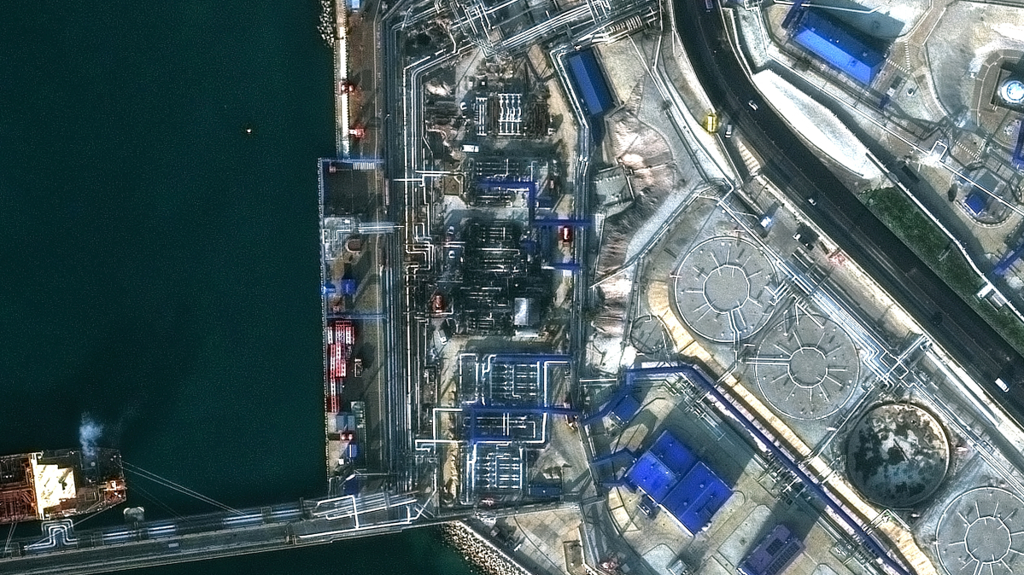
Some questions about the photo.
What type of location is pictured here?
industrial area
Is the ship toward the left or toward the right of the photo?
left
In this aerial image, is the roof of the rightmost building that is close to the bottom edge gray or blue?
blue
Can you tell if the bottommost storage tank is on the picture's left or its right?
right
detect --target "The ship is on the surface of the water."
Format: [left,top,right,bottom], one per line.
[0,449,126,522]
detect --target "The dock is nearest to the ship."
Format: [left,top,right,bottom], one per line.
[0,490,447,575]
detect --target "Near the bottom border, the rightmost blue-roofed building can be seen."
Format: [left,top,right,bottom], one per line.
[738,525,804,575]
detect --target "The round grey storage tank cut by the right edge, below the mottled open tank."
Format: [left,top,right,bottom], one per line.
[936,489,1024,575]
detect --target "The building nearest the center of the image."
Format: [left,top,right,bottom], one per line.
[514,298,540,327]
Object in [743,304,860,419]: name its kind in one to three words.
storage tank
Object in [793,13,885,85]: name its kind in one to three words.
building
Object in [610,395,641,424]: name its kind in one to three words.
building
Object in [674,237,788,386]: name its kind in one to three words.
storage tank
